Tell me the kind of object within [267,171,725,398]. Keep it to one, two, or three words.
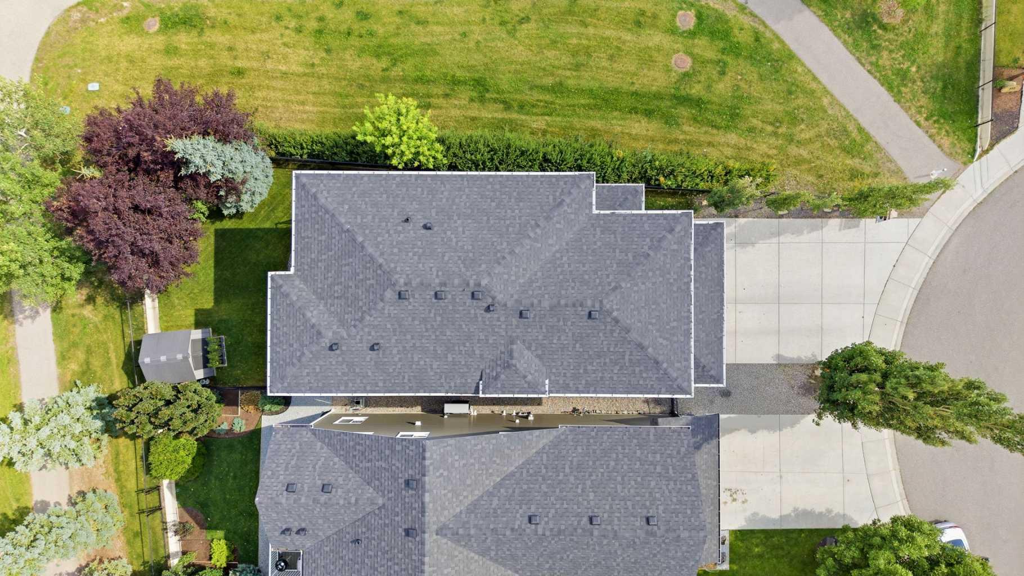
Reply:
house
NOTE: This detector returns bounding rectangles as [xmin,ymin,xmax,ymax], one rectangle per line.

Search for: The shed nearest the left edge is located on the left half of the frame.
[139,329,218,385]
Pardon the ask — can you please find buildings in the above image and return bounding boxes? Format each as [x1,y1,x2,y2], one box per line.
[267,171,725,398]
[139,329,218,385]
[256,410,720,576]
